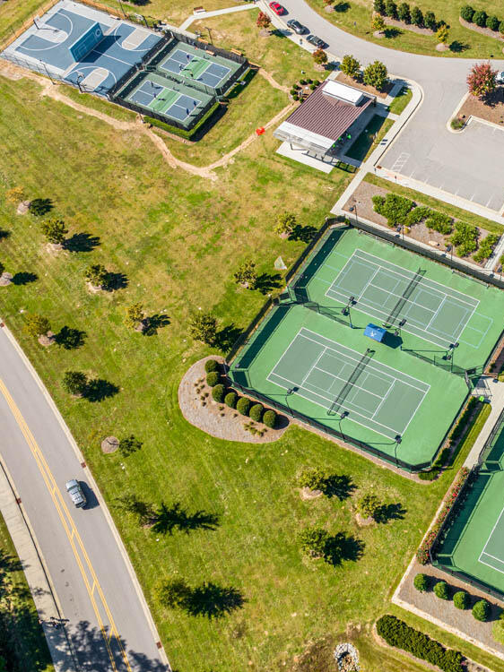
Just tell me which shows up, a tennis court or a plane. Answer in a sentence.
Of the two, only a tennis court appears.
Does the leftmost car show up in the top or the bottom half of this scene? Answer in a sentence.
The bottom half of the photo is where the leftmost car is.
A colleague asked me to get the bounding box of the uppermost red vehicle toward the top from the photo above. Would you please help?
[267,1,286,17]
